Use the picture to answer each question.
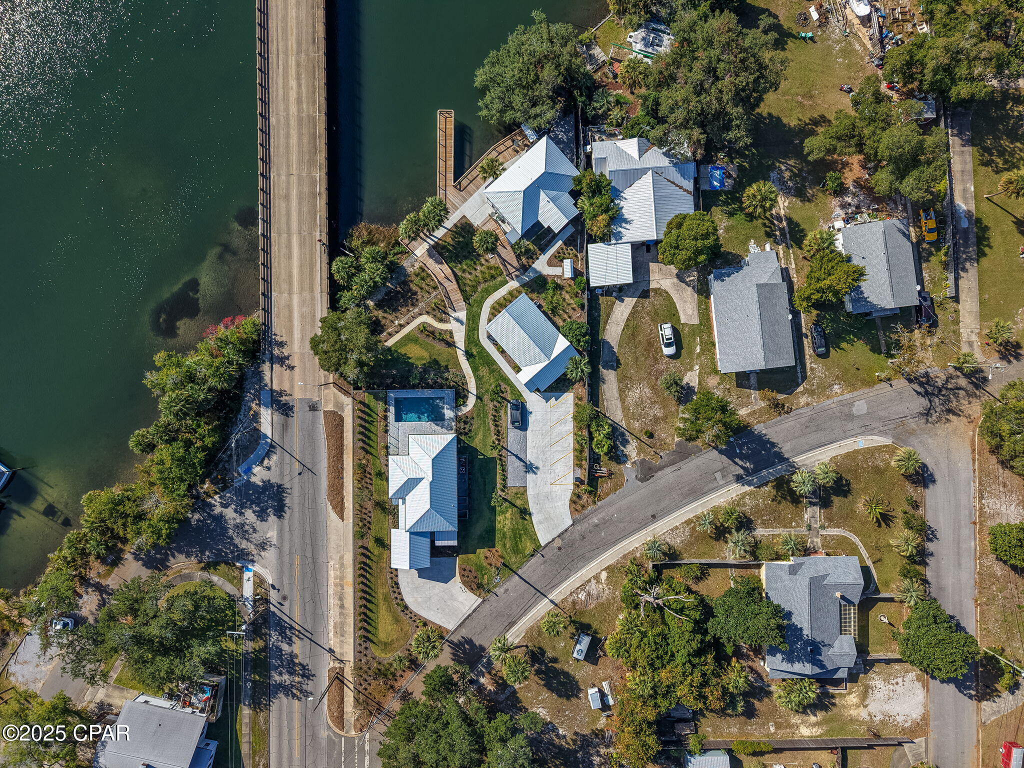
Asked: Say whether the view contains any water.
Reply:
Yes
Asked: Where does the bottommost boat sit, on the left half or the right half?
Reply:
left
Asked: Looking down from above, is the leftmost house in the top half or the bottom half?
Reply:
bottom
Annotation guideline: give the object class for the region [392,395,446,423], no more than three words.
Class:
swimming pool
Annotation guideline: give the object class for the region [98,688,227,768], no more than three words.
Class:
house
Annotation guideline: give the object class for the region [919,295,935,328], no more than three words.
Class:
car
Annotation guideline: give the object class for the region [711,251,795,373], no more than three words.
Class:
house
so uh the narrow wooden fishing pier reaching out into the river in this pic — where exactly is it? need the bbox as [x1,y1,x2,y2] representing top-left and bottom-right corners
[438,107,454,199]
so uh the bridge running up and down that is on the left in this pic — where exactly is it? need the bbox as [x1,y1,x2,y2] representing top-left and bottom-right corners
[255,0,330,353]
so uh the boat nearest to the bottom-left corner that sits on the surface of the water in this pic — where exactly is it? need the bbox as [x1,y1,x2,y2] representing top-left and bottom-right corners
[0,464,21,488]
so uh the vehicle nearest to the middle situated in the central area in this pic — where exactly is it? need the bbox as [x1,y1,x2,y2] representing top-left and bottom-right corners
[509,399,523,427]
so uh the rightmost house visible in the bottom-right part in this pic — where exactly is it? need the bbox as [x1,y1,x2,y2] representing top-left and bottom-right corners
[760,554,864,688]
